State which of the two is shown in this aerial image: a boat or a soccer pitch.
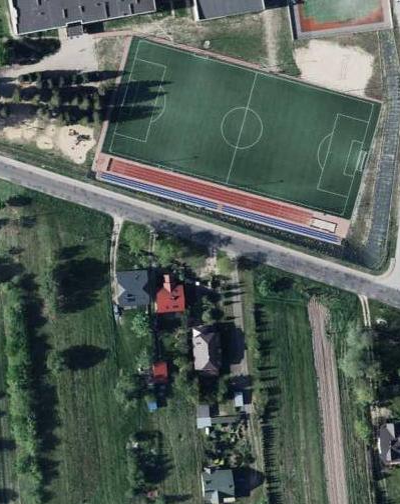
soccer pitch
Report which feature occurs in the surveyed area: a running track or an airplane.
running track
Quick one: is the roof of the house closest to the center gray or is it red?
red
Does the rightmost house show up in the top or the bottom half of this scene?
bottom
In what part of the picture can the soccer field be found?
top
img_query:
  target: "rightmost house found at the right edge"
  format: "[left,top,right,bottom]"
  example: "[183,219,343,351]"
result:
[376,424,400,465]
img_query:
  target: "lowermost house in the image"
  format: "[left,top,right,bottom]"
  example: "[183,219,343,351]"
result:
[203,467,235,504]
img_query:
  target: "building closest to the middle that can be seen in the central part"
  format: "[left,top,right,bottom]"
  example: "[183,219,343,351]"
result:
[156,273,185,313]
